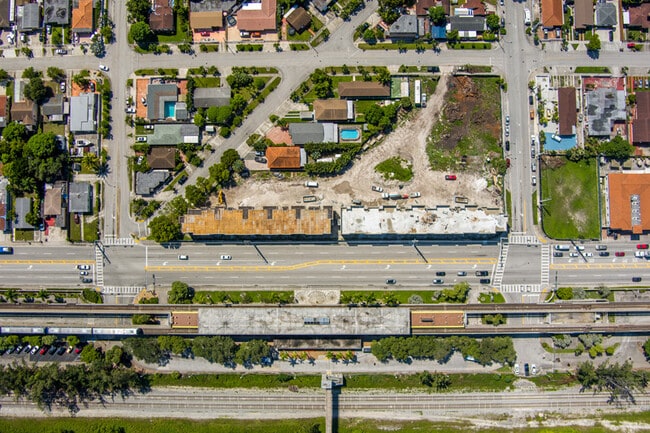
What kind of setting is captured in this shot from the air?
residential area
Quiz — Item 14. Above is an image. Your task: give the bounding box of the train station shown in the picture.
[169,306,467,335]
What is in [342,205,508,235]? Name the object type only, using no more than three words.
building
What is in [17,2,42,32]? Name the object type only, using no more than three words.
house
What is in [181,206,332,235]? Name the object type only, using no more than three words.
building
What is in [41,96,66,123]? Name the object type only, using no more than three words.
house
